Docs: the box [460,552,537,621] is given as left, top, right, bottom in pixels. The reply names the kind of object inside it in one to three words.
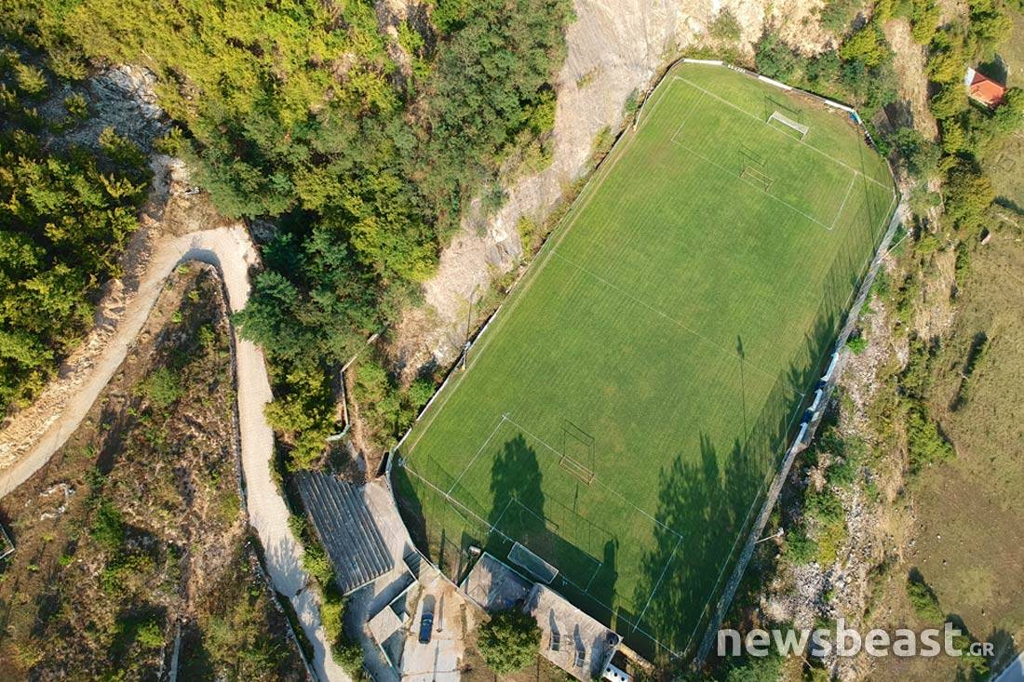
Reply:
building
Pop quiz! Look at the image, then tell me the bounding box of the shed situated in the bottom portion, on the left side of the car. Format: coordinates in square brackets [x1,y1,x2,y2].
[368,604,403,644]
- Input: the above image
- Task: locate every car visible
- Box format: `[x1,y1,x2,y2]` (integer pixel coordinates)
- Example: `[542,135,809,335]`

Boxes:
[419,613,435,647]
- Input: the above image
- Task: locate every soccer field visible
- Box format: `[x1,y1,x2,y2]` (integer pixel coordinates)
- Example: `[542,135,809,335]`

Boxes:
[389,61,897,682]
